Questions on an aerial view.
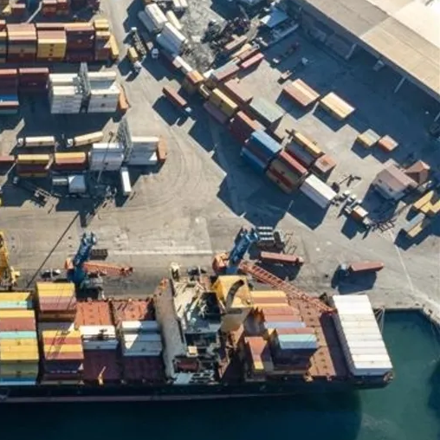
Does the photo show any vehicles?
Yes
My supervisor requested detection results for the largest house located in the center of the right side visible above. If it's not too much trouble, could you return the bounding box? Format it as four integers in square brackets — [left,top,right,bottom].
[375,161,422,198]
